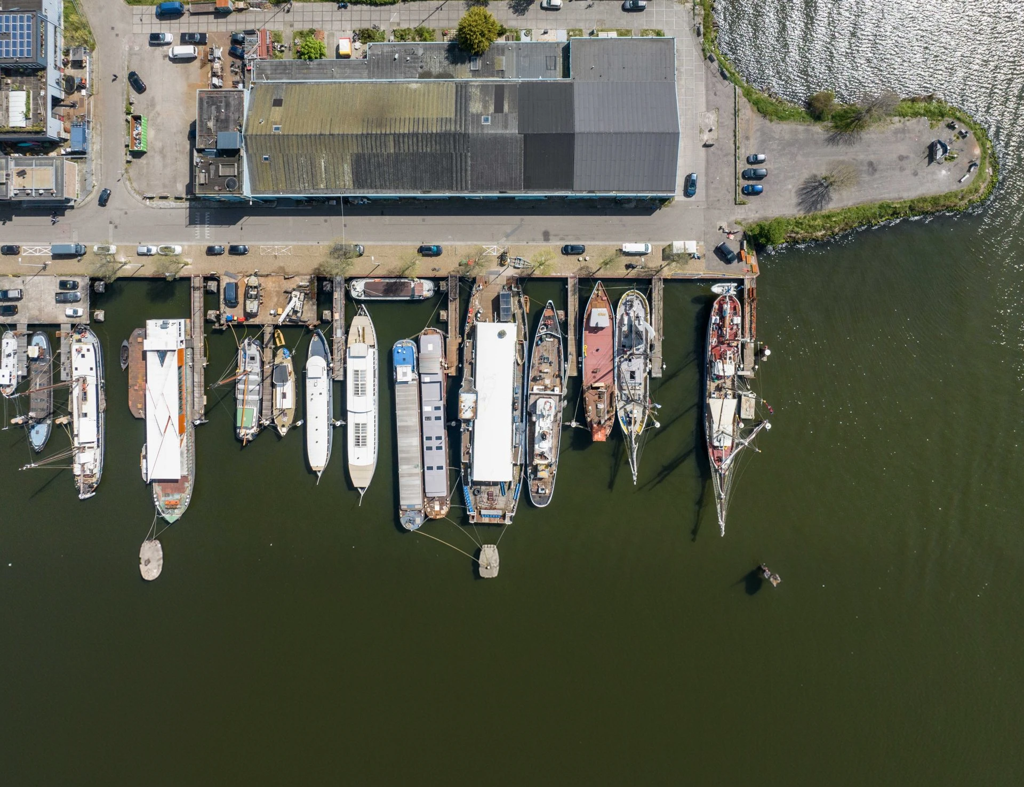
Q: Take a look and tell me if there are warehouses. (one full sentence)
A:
Yes, this view includes a warehouse.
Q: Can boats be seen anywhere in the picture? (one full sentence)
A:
Yes, you can see a boat in this photo.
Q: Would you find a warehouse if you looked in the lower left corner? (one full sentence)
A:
No, looking in the lower left corner, there is no warehouse.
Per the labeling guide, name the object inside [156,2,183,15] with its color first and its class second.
blue vehicle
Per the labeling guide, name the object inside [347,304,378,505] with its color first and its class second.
white vessel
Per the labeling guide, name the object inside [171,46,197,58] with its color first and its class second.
white vehicle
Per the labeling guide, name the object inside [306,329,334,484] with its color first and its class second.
white boat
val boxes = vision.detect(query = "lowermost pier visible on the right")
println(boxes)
[739,392,755,419]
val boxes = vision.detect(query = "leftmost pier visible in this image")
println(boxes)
[17,323,30,374]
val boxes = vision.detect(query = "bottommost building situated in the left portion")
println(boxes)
[0,156,85,204]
